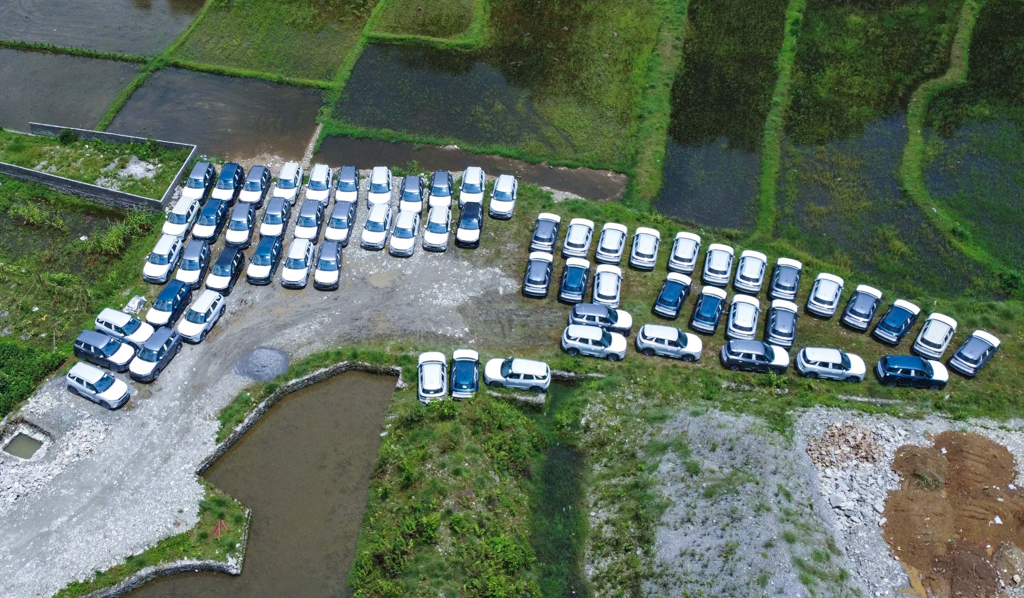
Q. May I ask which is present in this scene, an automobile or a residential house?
automobile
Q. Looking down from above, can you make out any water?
Yes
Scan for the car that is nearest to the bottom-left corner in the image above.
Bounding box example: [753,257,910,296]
[65,362,131,408]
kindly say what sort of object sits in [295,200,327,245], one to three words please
car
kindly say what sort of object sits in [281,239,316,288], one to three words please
car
